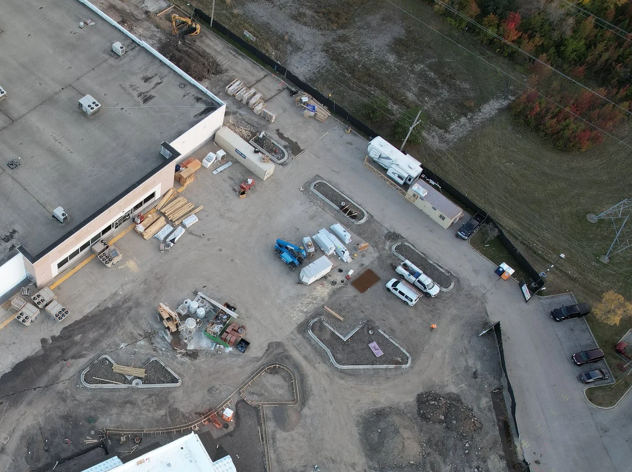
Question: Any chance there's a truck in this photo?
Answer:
Yes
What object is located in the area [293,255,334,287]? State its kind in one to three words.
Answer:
trailer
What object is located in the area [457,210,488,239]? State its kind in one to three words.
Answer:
truck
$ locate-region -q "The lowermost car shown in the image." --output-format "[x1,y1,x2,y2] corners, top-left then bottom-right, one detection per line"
[576,368,611,386]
